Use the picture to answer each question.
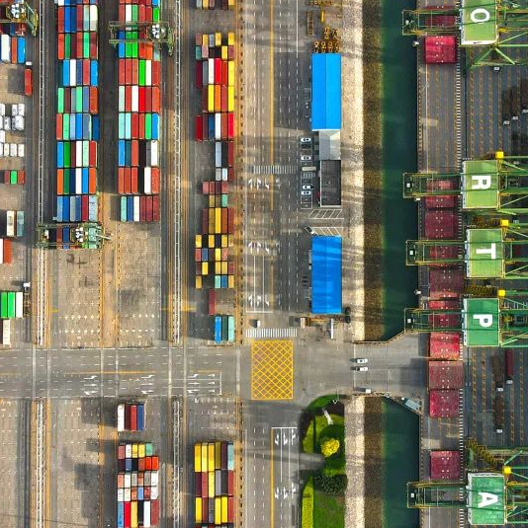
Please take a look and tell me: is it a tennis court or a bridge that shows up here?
bridge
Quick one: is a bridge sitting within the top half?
No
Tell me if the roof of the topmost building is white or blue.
blue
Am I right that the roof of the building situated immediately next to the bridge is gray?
No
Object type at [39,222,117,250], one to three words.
crane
